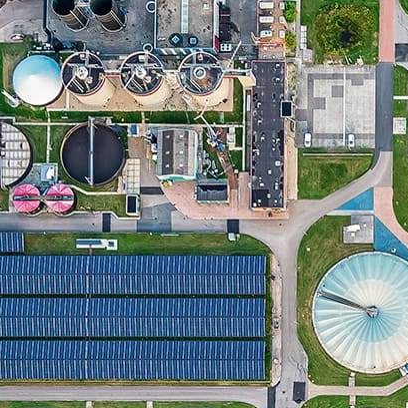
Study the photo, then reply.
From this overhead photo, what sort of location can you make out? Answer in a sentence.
This looks like an industrial area.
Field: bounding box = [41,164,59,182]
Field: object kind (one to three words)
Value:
shed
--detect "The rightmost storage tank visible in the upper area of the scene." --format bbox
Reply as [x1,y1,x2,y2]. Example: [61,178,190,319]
[177,51,222,106]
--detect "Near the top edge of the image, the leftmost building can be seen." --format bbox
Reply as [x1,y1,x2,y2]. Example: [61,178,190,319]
[155,0,213,55]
